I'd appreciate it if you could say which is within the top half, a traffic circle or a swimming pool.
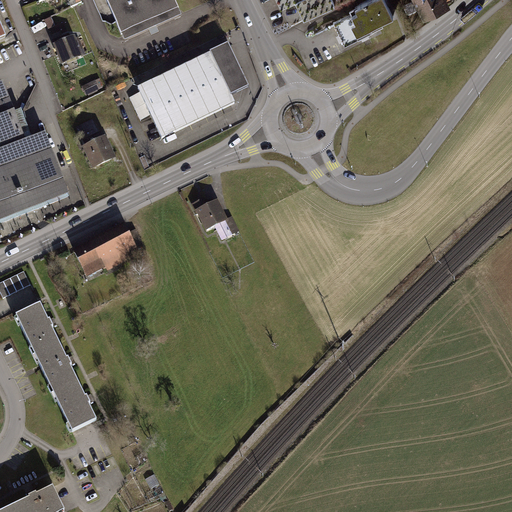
traffic circle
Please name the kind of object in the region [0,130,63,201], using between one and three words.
building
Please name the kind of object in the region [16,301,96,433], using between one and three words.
building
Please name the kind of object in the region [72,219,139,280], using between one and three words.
house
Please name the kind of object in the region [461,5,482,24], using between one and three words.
vehicle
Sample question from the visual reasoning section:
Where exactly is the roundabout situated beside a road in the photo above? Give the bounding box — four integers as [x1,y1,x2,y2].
[235,53,367,177]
